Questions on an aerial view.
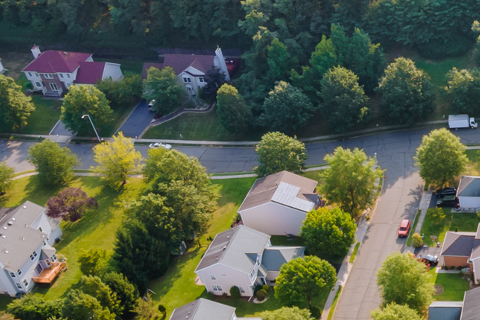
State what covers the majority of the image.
trees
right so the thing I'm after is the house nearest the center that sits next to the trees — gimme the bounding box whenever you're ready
[235,169,322,235]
